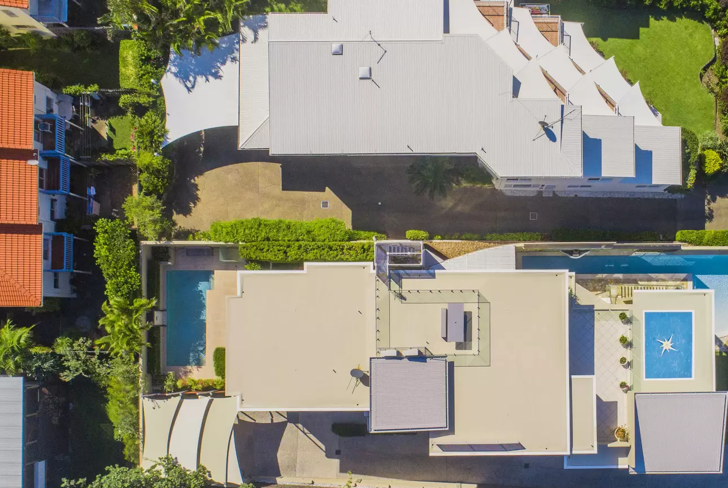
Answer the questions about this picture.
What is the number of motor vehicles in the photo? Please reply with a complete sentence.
There are no motor vehicles in the image.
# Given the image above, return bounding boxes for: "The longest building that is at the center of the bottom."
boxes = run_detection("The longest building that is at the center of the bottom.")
[227,262,569,455]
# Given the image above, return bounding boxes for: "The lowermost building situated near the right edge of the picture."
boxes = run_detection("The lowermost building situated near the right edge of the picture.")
[633,291,714,388]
